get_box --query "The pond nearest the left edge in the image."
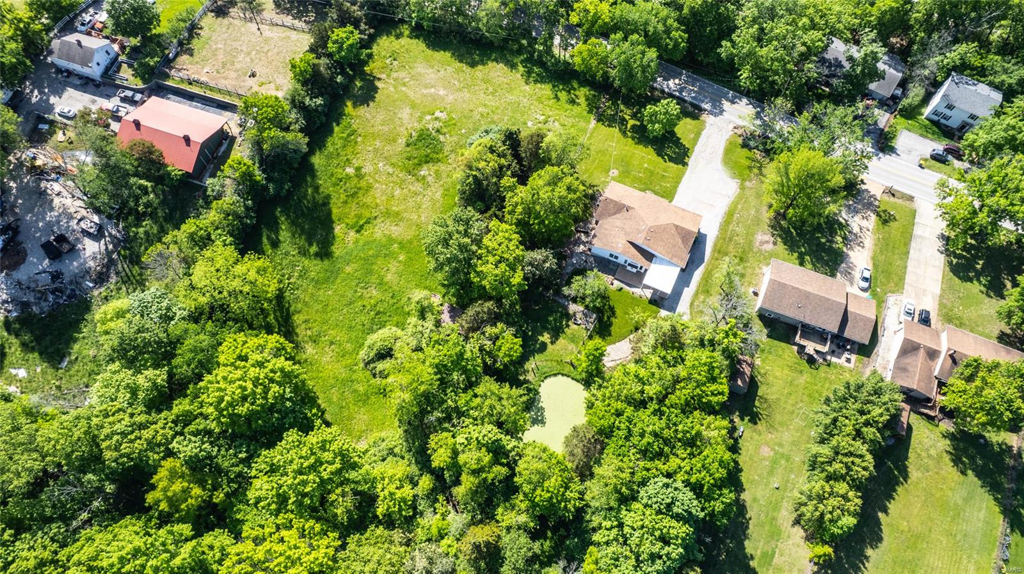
[504,377,588,454]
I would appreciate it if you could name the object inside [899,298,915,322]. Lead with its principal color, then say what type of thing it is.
white car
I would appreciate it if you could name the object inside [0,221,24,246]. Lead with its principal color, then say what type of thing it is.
black work vehicle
